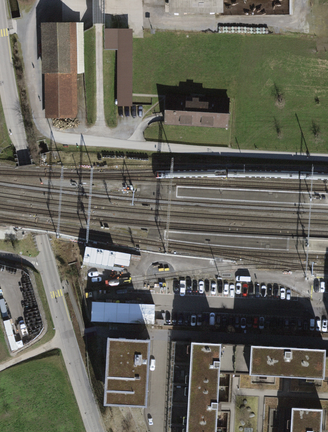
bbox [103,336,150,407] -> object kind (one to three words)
building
